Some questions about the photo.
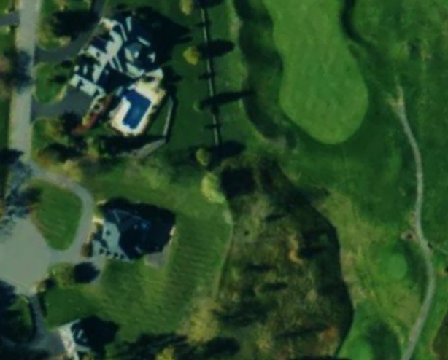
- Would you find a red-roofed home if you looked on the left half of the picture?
No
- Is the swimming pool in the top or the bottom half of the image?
top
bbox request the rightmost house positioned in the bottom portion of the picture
[92,207,160,262]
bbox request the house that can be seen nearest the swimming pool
[70,18,153,97]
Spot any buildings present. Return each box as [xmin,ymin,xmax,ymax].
[92,207,160,262]
[70,18,153,97]
[60,322,93,360]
